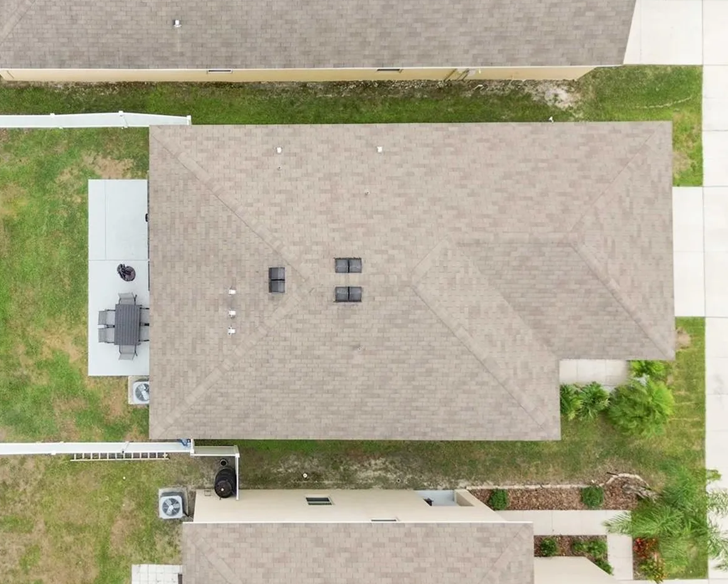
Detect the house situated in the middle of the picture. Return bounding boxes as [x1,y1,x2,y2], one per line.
[147,121,675,440]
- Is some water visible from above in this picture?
No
